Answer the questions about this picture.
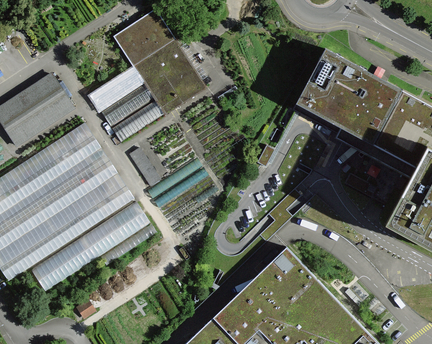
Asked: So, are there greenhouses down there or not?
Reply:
Yes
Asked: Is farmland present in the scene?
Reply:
No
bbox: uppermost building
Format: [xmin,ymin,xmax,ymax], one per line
[114,12,175,65]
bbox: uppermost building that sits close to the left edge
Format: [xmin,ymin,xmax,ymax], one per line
[0,72,74,145]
